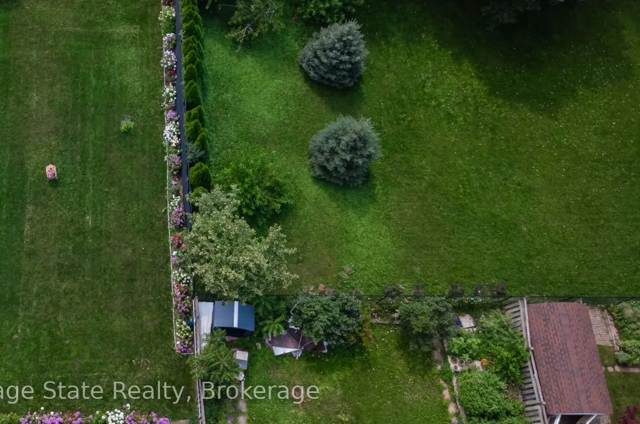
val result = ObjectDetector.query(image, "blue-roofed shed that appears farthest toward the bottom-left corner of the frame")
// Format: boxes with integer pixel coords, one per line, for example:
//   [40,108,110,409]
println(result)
[211,299,256,332]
